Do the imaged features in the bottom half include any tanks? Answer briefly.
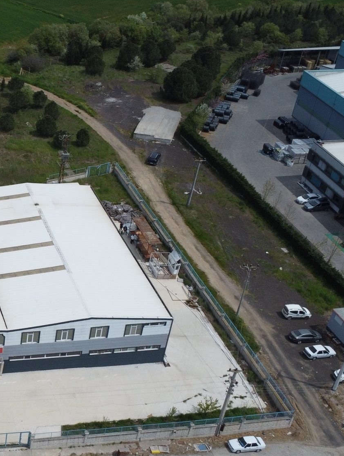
No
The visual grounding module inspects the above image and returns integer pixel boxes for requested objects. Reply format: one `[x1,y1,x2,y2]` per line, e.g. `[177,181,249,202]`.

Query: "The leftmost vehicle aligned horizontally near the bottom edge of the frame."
[227,436,267,455]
